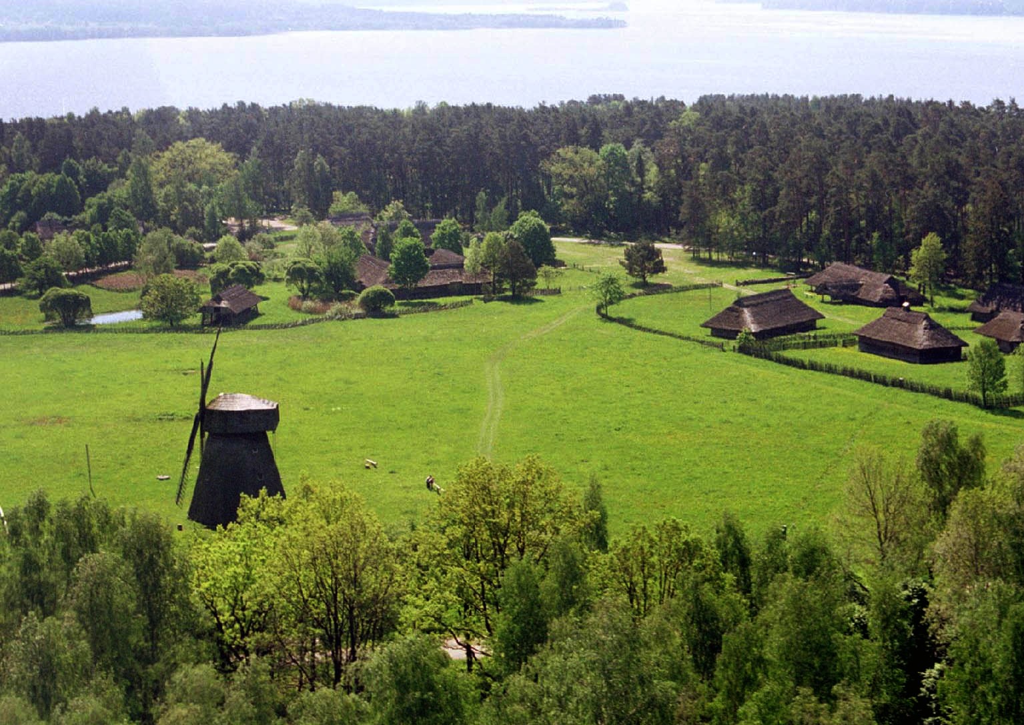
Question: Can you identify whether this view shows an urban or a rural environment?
rural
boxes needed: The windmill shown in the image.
[171,320,287,529]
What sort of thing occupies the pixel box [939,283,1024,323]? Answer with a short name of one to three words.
house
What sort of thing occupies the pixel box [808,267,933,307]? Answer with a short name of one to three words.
barn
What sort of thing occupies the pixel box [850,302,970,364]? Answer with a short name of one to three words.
house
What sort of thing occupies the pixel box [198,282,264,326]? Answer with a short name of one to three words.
shed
